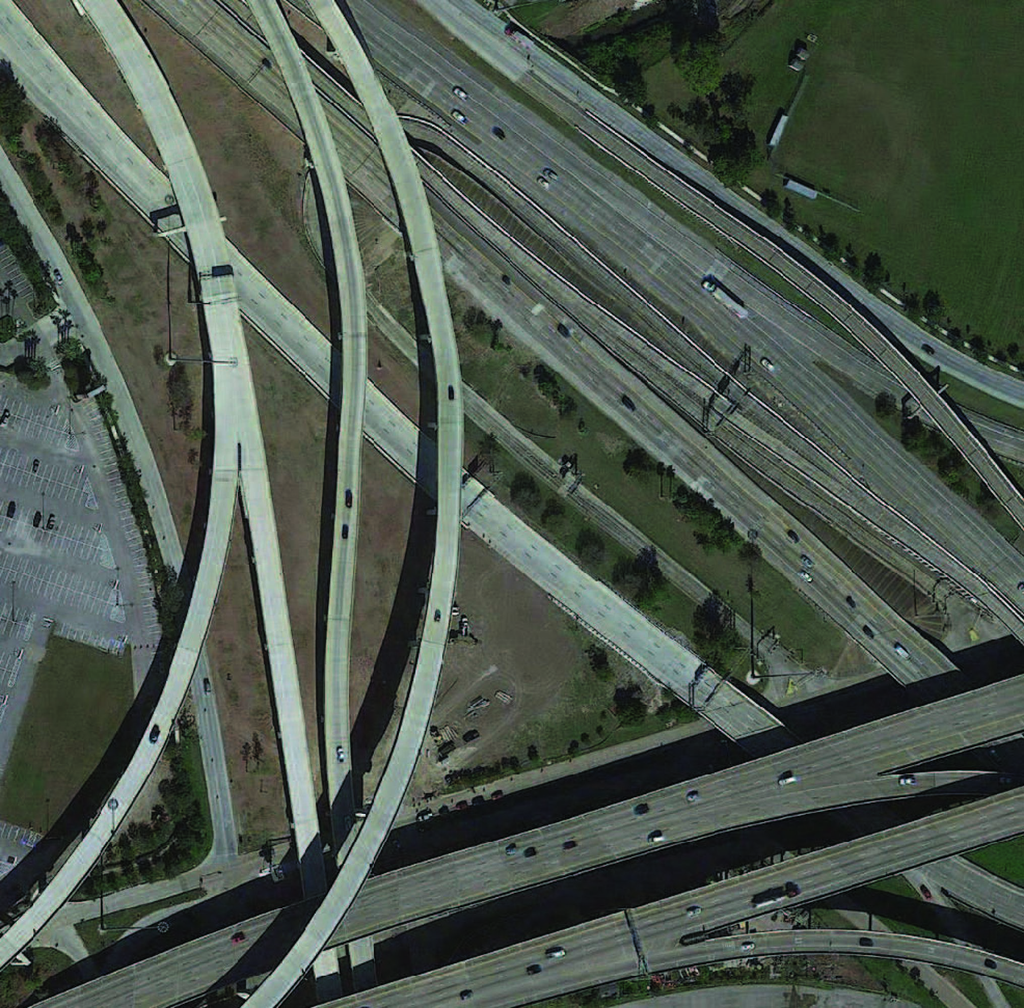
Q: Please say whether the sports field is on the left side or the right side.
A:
right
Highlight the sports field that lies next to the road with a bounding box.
[772,0,1024,330]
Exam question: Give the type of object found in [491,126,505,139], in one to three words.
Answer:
vehicle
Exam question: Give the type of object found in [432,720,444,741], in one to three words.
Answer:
vehicle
